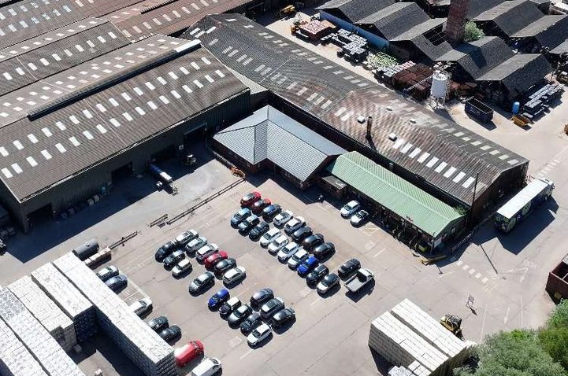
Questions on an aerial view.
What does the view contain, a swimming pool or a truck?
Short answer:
truck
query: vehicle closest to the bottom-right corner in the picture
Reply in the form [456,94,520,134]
[439,308,468,343]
